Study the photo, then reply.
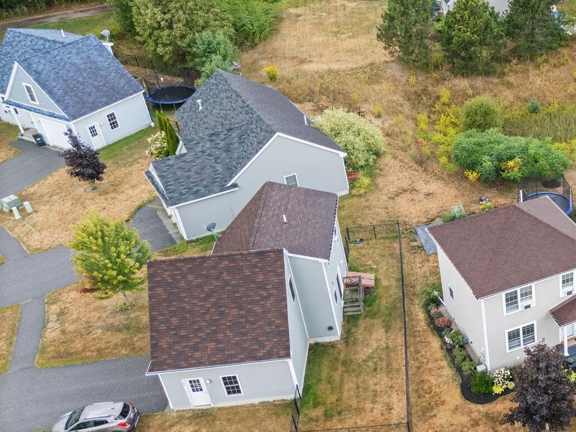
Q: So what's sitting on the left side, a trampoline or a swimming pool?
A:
trampoline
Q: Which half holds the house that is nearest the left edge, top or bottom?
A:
top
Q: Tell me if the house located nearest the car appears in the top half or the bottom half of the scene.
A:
bottom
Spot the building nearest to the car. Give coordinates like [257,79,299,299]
[145,181,347,411]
